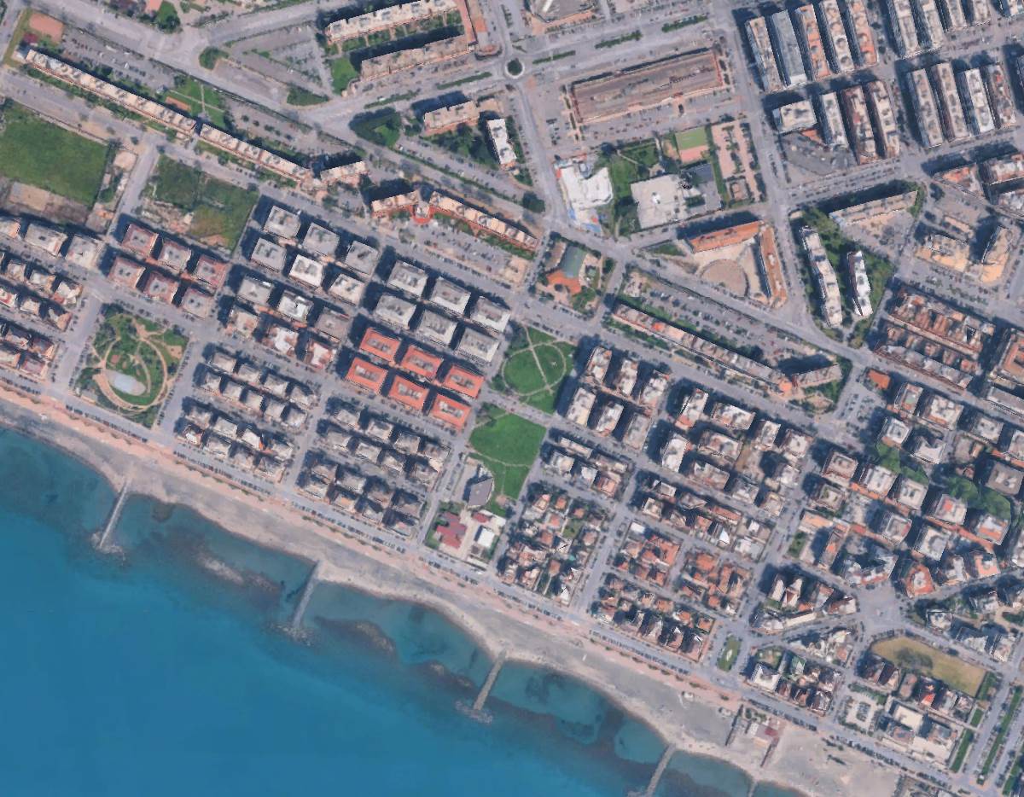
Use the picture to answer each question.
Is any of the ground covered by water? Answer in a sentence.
Yes, the picture does contain water.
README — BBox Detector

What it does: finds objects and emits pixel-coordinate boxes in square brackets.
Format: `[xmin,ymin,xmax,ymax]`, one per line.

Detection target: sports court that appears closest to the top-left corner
[30,13,63,42]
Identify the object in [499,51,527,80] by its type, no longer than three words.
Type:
roundabout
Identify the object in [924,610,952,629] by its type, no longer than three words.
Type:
building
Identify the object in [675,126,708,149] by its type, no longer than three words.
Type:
sports court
